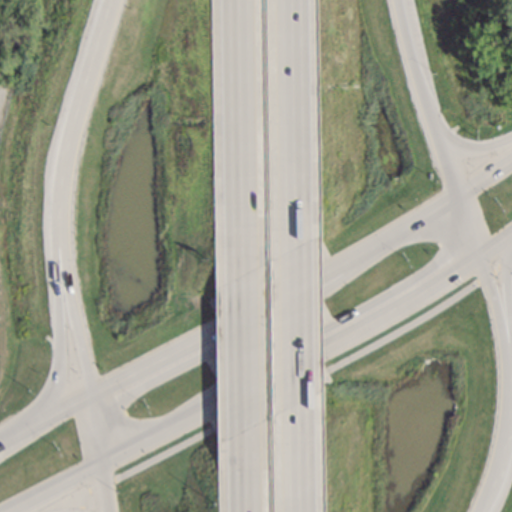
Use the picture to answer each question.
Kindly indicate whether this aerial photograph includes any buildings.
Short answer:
No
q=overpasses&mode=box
[214,238,332,442]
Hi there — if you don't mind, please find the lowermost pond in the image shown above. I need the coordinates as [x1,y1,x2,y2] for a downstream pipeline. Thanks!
[384,360,456,512]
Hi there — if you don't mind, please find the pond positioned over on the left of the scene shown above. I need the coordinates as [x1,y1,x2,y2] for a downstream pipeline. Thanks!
[106,88,160,317]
